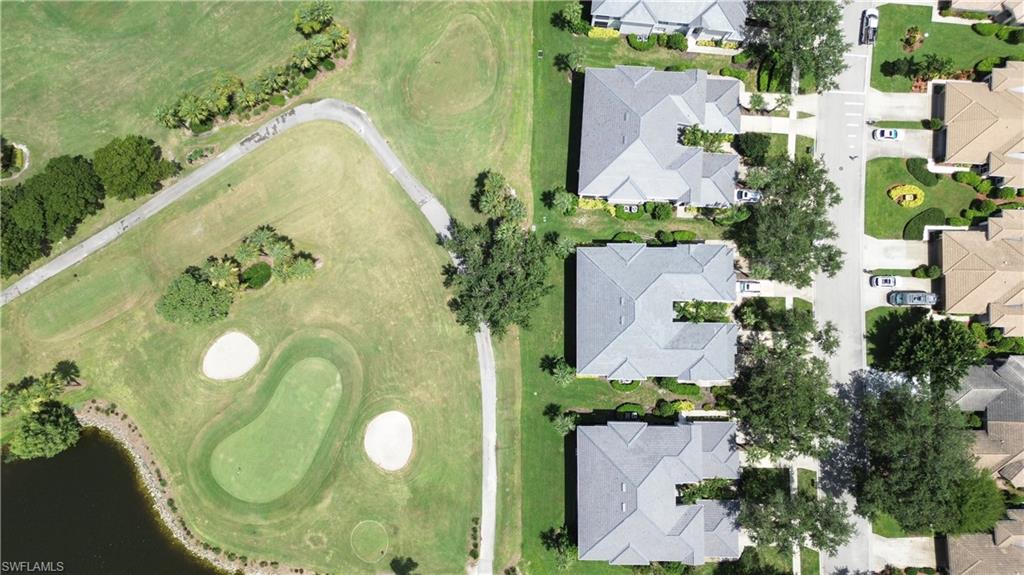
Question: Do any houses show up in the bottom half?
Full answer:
Yes, a house shows up in the bottom half.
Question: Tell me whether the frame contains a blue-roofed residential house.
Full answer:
No, there appears to be no blue-roofed residential house in this shot.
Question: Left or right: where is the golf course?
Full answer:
The golf course appears in the left half of the scene.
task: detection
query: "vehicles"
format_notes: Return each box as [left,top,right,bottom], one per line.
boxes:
[738,189,762,202]
[875,126,904,139]
[860,8,879,45]
[889,291,934,306]
[733,280,764,293]
[868,275,897,288]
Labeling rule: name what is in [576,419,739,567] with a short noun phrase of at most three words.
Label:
house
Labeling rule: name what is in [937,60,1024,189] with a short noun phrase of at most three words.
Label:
house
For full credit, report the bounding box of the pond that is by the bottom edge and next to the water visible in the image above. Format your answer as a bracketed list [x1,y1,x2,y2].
[0,430,227,575]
